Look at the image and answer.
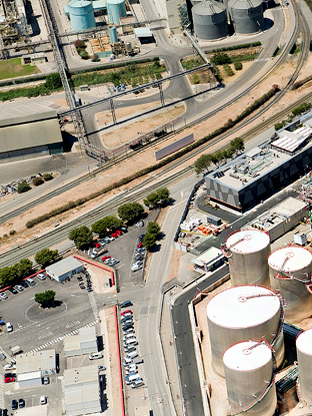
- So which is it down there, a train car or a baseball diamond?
train car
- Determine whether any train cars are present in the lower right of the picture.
No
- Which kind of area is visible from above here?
industrial area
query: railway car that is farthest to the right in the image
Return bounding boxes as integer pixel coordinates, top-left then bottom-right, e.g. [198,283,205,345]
[170,116,195,133]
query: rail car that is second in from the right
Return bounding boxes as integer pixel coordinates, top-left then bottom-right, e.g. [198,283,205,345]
[145,127,169,144]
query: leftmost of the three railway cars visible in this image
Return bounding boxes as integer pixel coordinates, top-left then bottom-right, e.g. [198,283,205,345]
[126,135,152,151]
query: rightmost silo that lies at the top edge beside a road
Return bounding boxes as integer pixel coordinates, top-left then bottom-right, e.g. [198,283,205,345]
[229,0,263,33]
